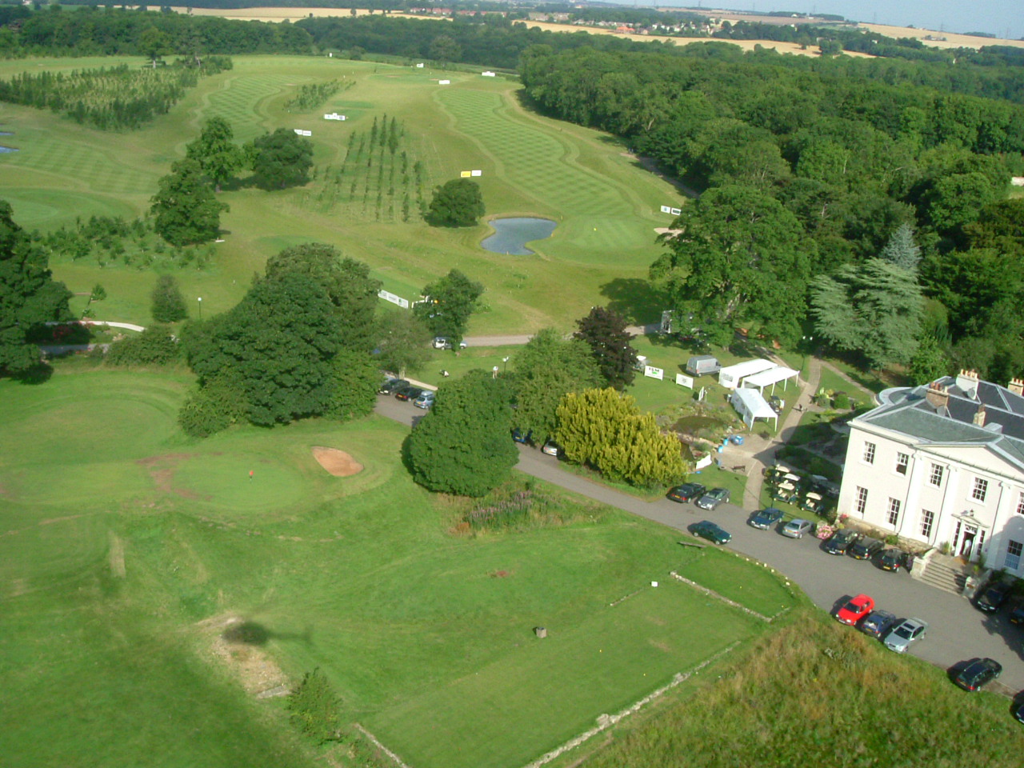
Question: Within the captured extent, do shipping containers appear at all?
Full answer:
No, no shipping container can be seen from above.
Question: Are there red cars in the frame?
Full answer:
Yes, the image includes a red car.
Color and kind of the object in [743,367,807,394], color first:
white tent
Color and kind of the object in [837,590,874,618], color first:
red car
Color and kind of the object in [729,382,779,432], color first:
white tent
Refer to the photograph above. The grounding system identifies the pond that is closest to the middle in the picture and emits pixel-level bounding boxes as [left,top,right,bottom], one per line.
[481,216,555,255]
